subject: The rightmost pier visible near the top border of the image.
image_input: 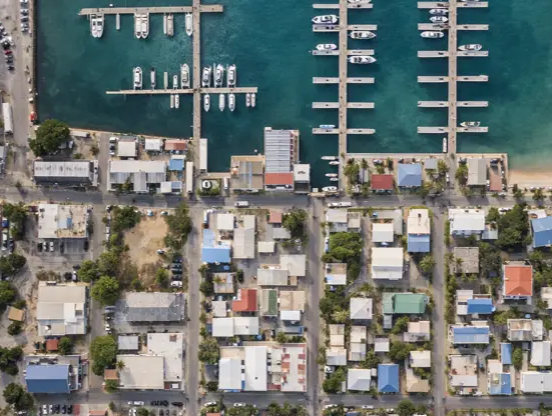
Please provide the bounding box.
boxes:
[417,0,488,153]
